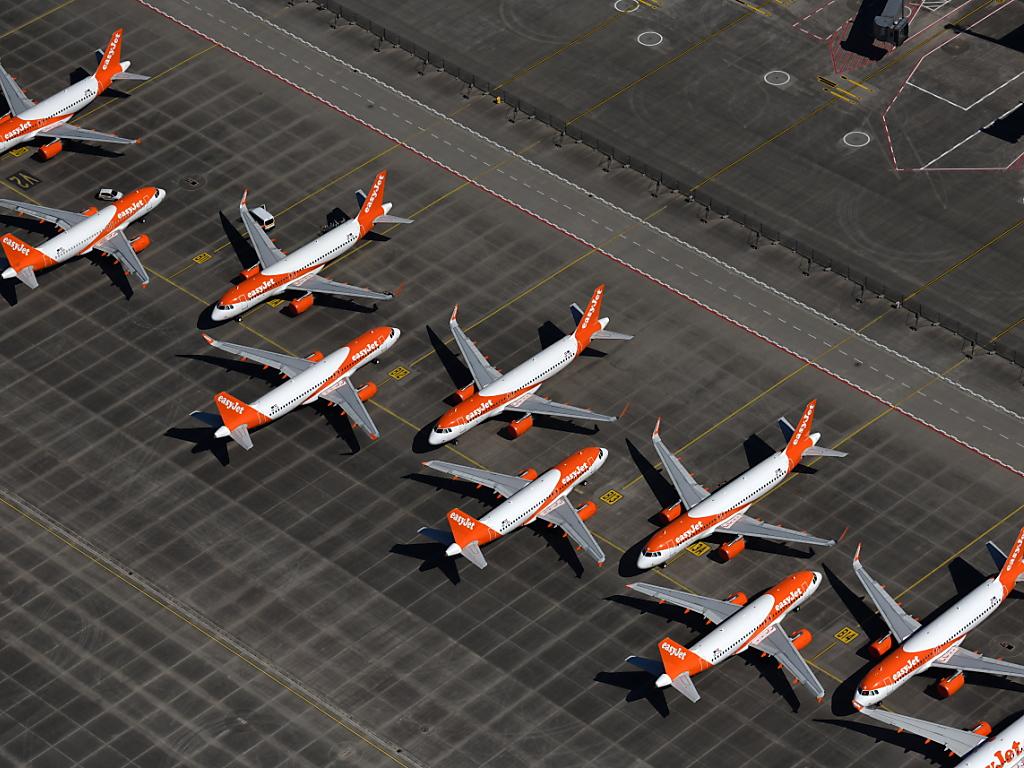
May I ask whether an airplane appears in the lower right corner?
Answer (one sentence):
Yes, looking in the lower right corner, one can make out an airplane.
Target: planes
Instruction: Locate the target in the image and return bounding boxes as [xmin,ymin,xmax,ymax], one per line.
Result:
[210,169,415,320]
[626,571,826,702]
[636,399,848,569]
[0,30,152,162]
[0,187,168,288]
[852,528,1024,705]
[859,705,1024,768]
[427,284,636,445]
[191,326,401,449]
[417,447,609,569]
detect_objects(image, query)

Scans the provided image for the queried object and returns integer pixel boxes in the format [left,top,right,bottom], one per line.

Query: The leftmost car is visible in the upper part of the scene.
[98,188,122,201]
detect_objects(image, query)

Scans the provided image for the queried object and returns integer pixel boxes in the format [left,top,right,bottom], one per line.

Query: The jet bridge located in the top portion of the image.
[873,0,911,47]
